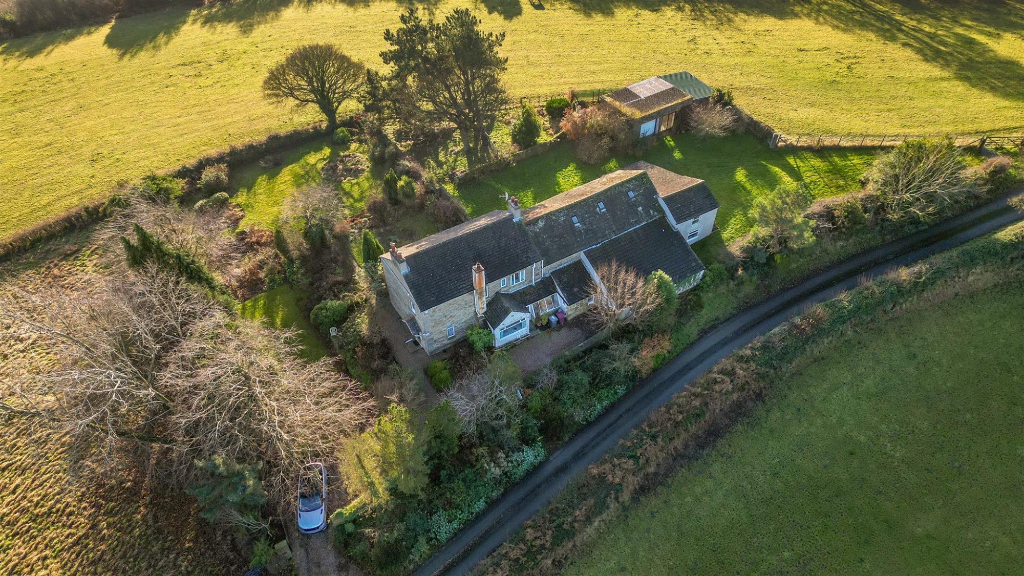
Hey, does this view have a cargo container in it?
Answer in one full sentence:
No, there appears to be no cargo container in this shot.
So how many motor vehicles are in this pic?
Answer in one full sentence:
Only 1 motor vehicle is visible.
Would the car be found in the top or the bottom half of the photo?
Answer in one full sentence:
Seen from above, the car lies in the bottom half of the view.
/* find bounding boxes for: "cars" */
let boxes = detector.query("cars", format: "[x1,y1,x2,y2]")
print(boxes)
[295,466,331,536]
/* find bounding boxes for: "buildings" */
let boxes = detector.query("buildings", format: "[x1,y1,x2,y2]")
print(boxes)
[602,66,714,138]
[378,160,721,355]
